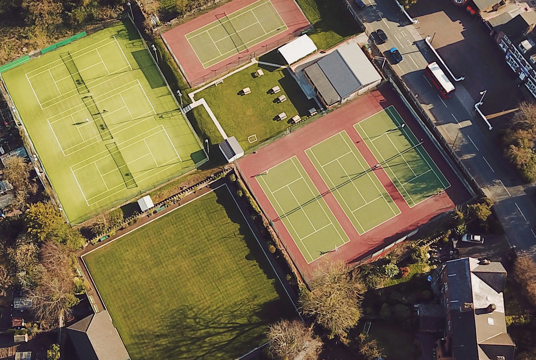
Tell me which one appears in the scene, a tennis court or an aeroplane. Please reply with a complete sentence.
Looking from above, you can make out a tennis court.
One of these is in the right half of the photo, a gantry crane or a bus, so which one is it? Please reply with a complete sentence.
There is a bus in the right half of the photo.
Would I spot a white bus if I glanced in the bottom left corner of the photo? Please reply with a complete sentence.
No, I can find no white bus in the bottom left corner of the photo.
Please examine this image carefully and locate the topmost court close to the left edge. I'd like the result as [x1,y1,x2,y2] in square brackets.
[26,36,132,109]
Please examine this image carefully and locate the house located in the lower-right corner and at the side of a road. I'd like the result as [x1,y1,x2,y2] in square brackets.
[417,254,512,360]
